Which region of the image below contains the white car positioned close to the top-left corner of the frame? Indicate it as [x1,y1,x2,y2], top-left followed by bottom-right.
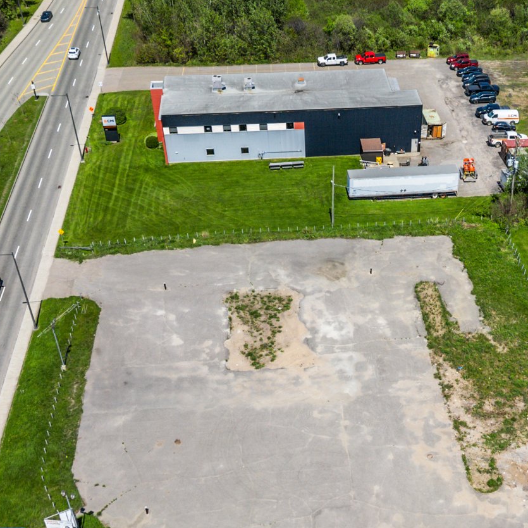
[66,47,79,61]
